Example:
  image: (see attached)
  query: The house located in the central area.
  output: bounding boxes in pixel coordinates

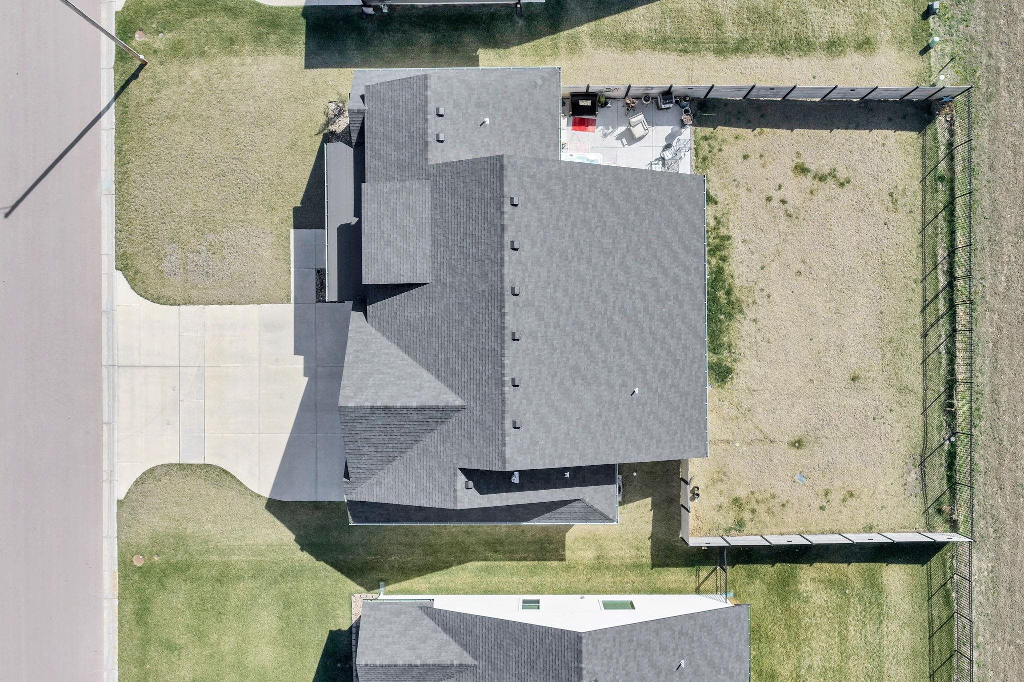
[324,65,708,525]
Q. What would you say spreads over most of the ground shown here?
grass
